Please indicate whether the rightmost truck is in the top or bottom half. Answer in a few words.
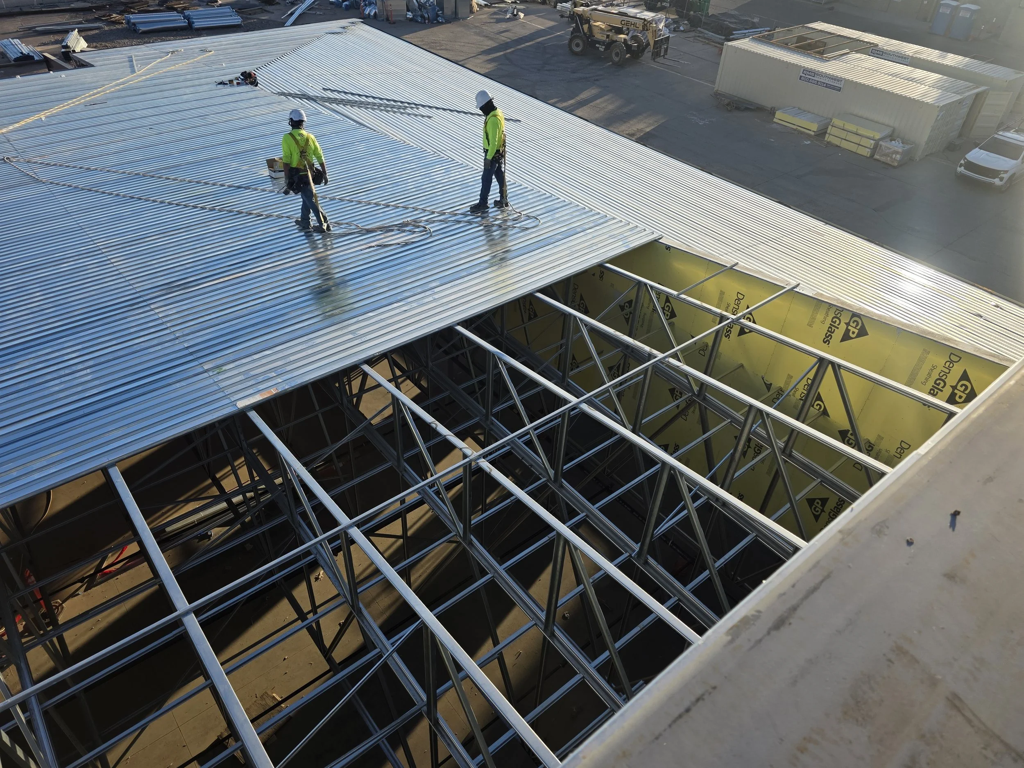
top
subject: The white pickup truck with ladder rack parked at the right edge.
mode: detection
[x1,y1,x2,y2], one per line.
[956,114,1024,192]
